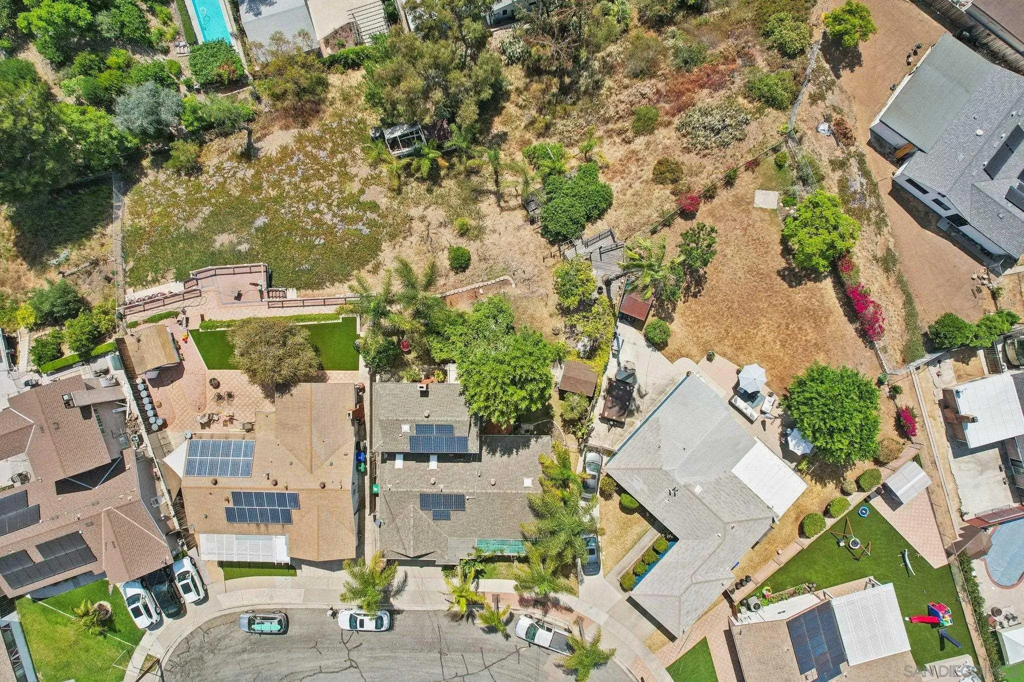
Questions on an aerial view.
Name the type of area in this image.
residential area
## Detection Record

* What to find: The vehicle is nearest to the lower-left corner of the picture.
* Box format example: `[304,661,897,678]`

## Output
[119,582,156,635]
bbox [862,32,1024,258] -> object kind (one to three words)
house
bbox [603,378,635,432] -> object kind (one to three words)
trailer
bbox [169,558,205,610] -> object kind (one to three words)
car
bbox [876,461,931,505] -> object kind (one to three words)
shed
